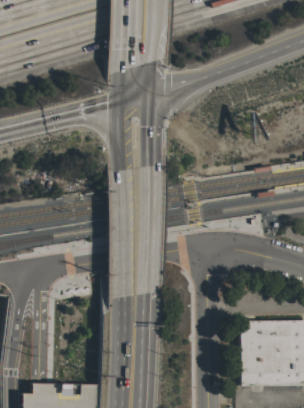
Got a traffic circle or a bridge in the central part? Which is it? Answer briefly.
bridge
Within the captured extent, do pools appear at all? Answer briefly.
No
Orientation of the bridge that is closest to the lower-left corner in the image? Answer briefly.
from top to bottom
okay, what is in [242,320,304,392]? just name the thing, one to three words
building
